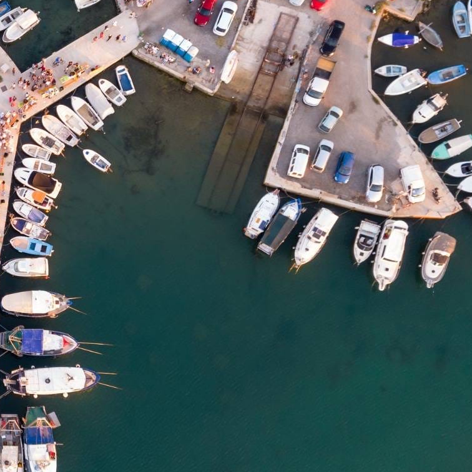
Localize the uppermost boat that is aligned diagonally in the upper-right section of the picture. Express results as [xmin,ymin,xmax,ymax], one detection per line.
[418,21,443,52]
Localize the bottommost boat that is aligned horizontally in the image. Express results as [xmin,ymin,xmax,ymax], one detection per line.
[0,363,118,398]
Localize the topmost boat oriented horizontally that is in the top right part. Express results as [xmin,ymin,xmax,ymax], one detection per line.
[378,32,420,50]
